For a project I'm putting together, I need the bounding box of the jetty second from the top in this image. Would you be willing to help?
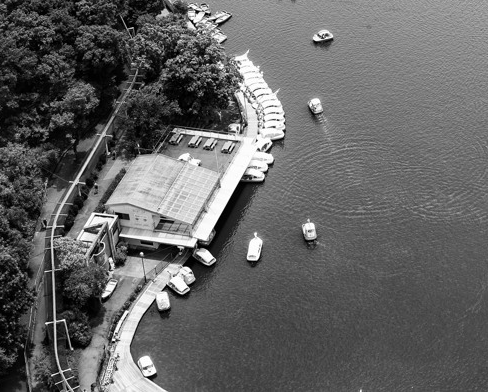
[205,166,255,248]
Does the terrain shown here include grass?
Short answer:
No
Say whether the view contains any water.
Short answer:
Yes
